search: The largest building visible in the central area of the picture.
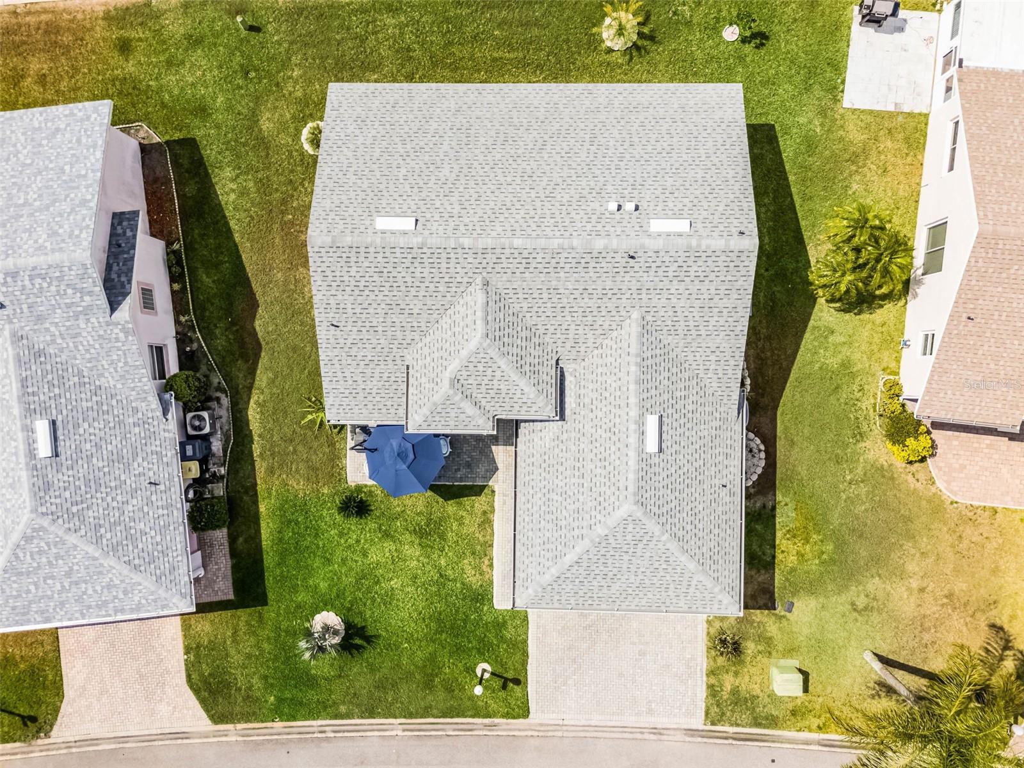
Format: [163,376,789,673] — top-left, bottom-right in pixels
[306,80,760,618]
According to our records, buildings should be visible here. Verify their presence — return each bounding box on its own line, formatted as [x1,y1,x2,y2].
[0,99,208,633]
[898,0,1024,432]
[306,80,760,618]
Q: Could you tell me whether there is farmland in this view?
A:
No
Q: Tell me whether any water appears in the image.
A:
No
